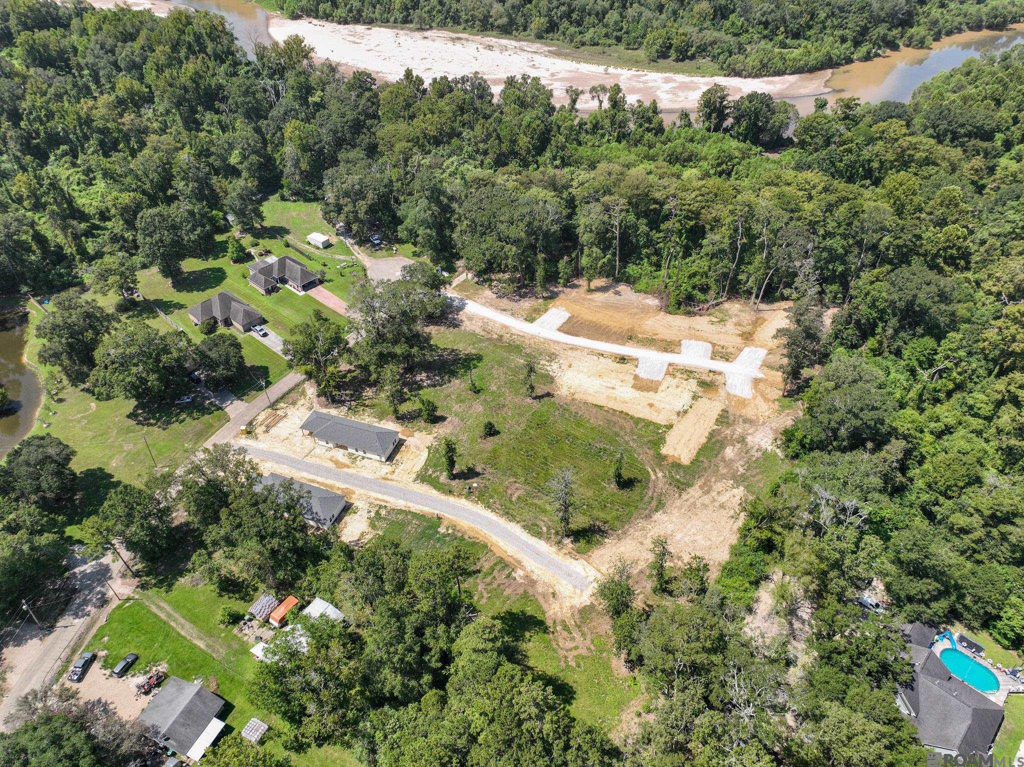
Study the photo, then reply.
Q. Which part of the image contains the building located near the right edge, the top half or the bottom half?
bottom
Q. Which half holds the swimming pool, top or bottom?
bottom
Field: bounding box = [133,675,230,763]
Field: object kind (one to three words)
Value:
house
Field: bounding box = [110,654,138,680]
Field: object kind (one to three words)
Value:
car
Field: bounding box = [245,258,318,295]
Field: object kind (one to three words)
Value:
house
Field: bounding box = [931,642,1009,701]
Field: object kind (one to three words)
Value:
swimming pool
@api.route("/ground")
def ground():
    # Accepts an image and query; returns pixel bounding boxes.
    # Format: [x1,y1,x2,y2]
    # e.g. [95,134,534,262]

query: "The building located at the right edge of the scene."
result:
[889,618,1004,767]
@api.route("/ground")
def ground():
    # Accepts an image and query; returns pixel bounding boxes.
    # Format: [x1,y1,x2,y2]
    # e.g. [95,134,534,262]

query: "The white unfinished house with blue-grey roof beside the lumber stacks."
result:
[299,409,401,463]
